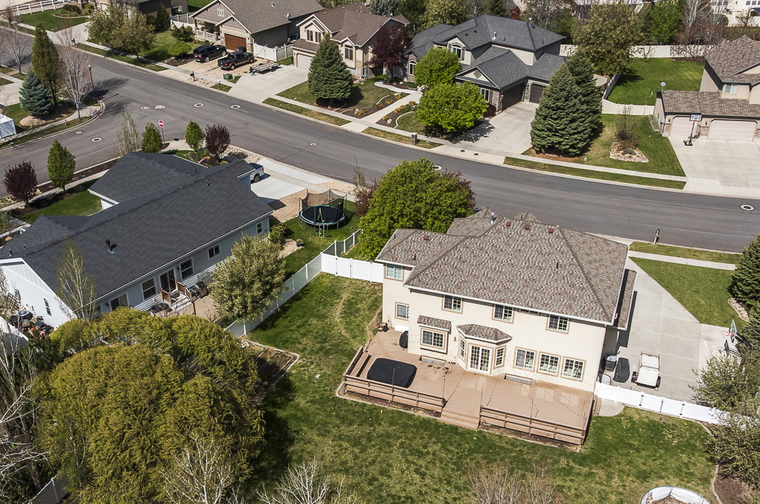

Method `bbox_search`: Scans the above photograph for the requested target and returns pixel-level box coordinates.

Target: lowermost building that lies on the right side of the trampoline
[375,208,644,392]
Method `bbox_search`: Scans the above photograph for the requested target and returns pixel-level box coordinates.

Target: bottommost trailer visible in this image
[631,349,666,389]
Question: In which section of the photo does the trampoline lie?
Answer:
center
